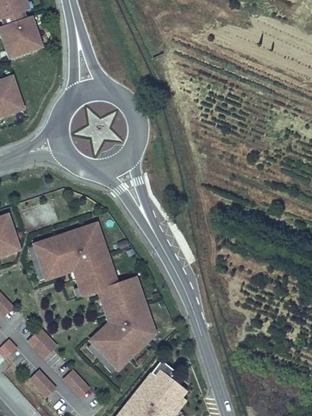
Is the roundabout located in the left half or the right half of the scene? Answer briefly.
left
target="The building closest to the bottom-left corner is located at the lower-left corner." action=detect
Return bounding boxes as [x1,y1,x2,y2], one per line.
[29,369,56,398]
